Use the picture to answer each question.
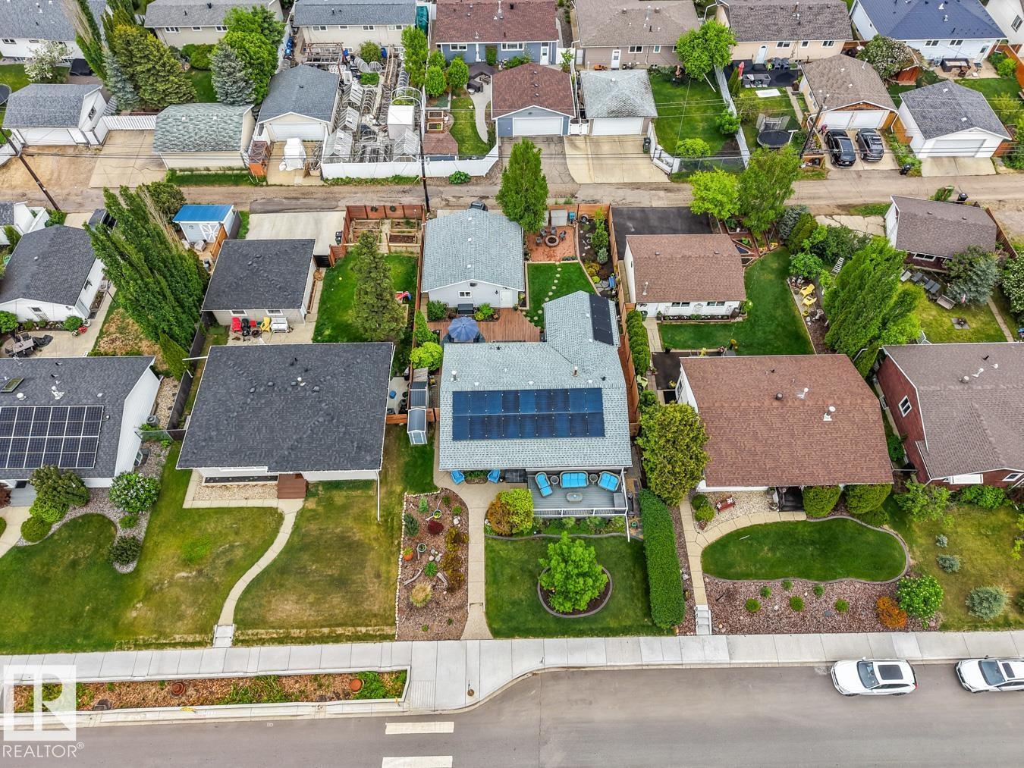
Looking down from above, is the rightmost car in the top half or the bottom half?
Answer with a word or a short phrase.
bottom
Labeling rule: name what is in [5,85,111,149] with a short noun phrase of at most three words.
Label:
building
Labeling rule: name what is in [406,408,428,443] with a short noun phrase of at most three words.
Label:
greenhouse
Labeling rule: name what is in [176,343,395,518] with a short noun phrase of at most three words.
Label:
house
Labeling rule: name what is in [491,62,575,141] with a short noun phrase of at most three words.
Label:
building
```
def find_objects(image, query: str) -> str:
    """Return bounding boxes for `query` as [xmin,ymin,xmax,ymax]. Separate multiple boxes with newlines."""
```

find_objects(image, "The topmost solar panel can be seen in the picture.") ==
[592,296,612,345]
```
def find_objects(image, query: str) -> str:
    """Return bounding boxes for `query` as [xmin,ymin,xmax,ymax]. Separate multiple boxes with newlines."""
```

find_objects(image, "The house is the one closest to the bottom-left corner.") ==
[0,354,168,509]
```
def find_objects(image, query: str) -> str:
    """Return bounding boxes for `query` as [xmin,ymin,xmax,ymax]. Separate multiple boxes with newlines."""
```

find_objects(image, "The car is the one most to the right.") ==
[950,653,1024,696]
